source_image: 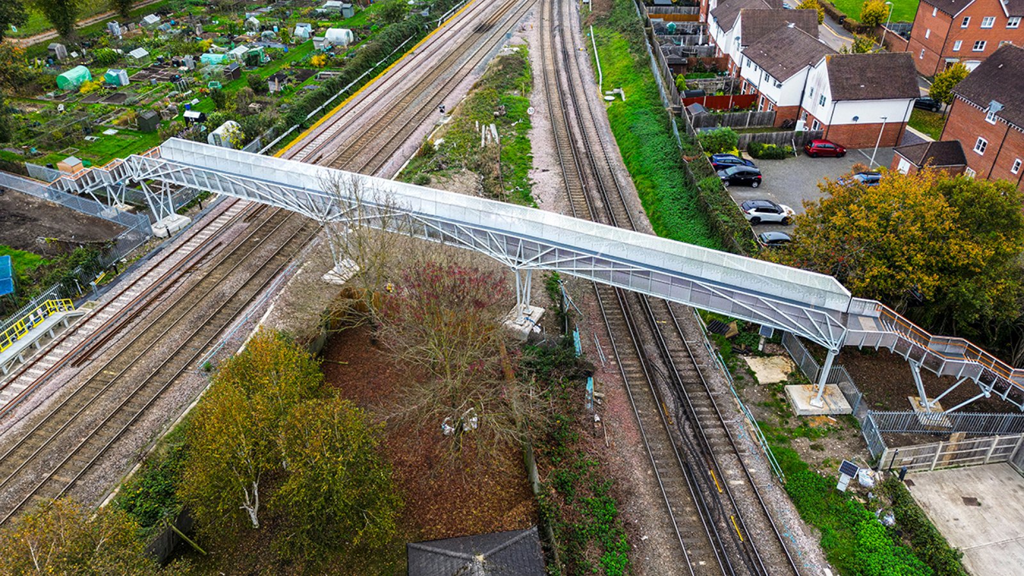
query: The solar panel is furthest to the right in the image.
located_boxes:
[838,456,863,490]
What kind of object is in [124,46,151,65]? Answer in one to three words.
greenhouse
